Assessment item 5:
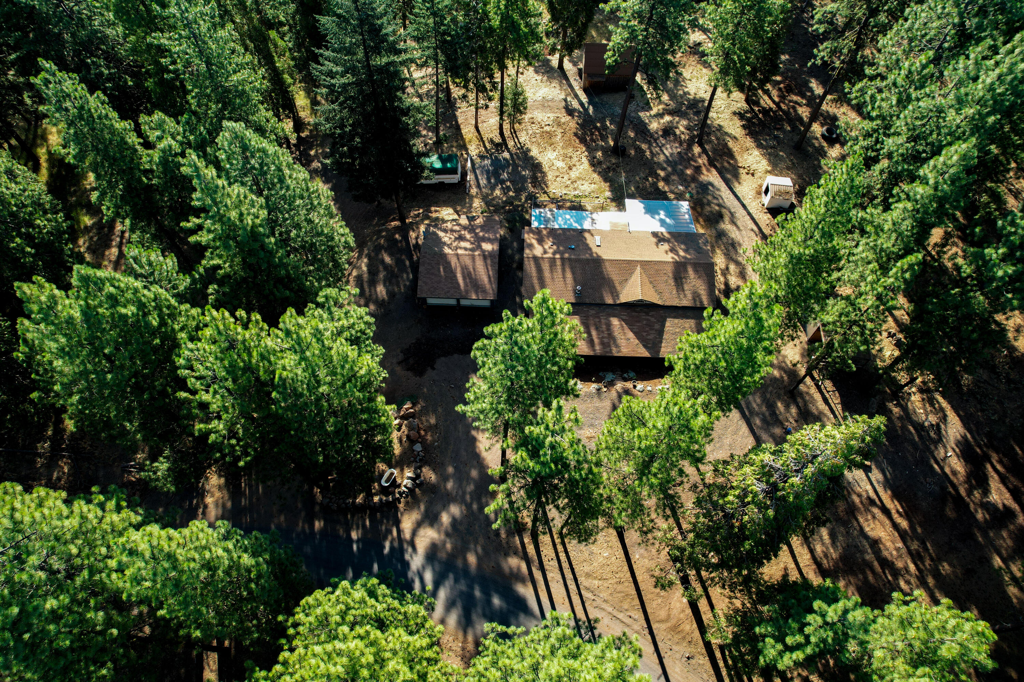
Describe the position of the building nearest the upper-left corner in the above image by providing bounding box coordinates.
[417,216,501,312]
